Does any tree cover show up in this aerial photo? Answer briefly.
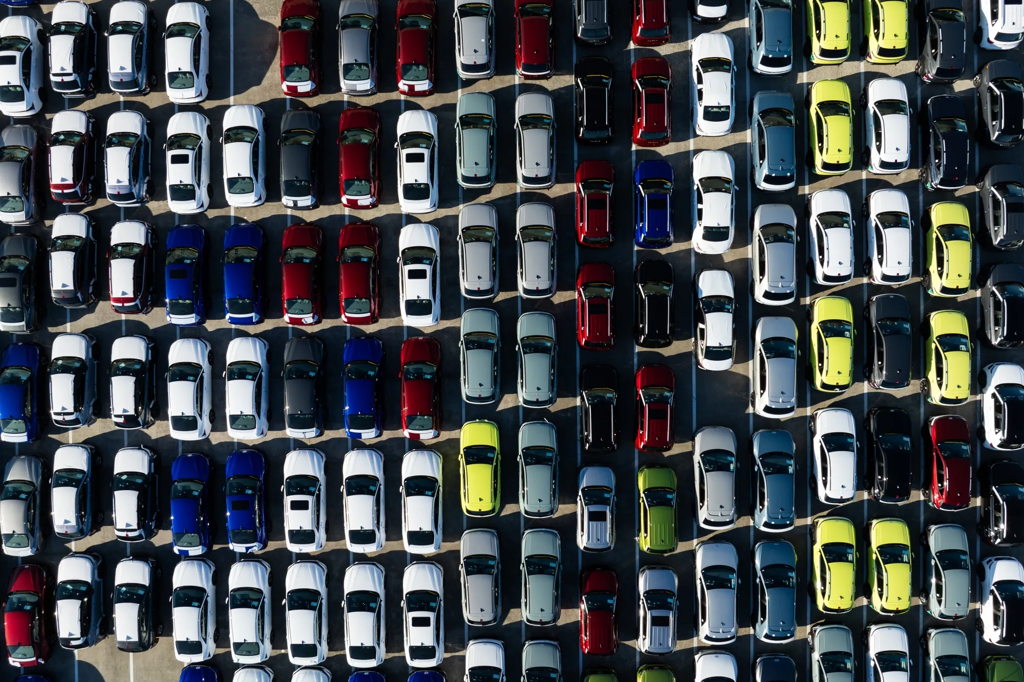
No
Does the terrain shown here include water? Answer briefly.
No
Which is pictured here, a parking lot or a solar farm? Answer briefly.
parking lot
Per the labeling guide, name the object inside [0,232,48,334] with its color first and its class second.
black car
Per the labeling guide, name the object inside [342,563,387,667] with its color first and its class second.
white car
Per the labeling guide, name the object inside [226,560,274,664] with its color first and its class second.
white car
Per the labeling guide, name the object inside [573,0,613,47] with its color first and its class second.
black car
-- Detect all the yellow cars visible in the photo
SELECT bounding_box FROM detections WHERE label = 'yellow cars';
[859,0,912,66]
[920,310,974,405]
[921,201,975,296]
[459,421,502,516]
[863,518,915,614]
[805,79,856,175]
[808,517,859,613]
[803,0,854,66]
[806,297,856,392]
